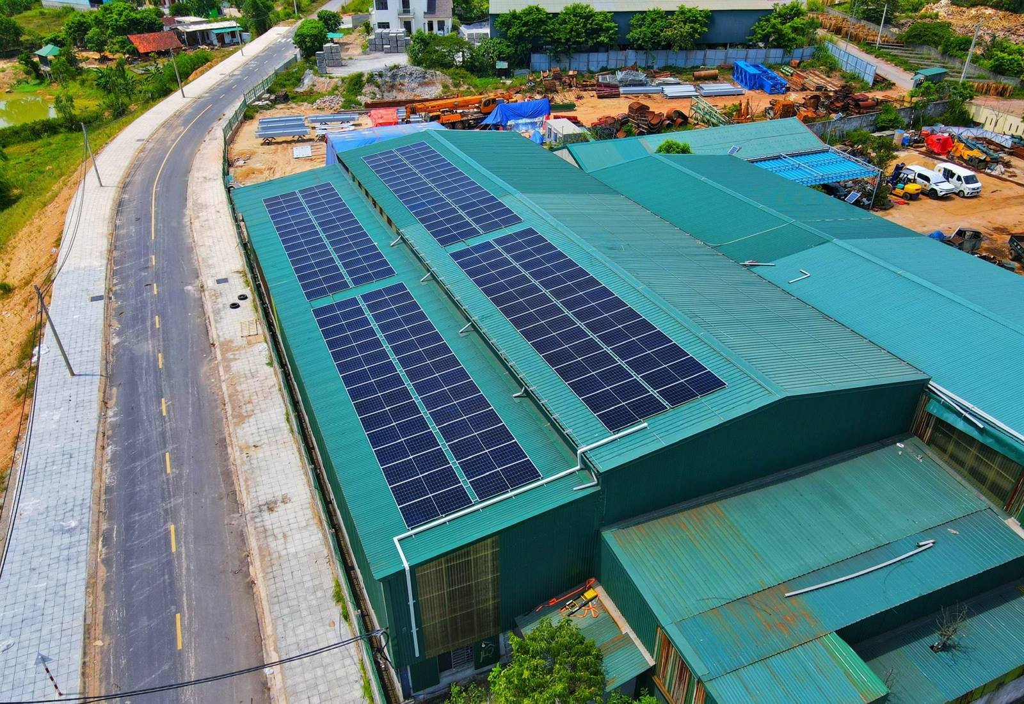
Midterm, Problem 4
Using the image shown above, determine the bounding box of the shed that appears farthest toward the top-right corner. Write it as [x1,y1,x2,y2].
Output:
[913,62,961,87]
